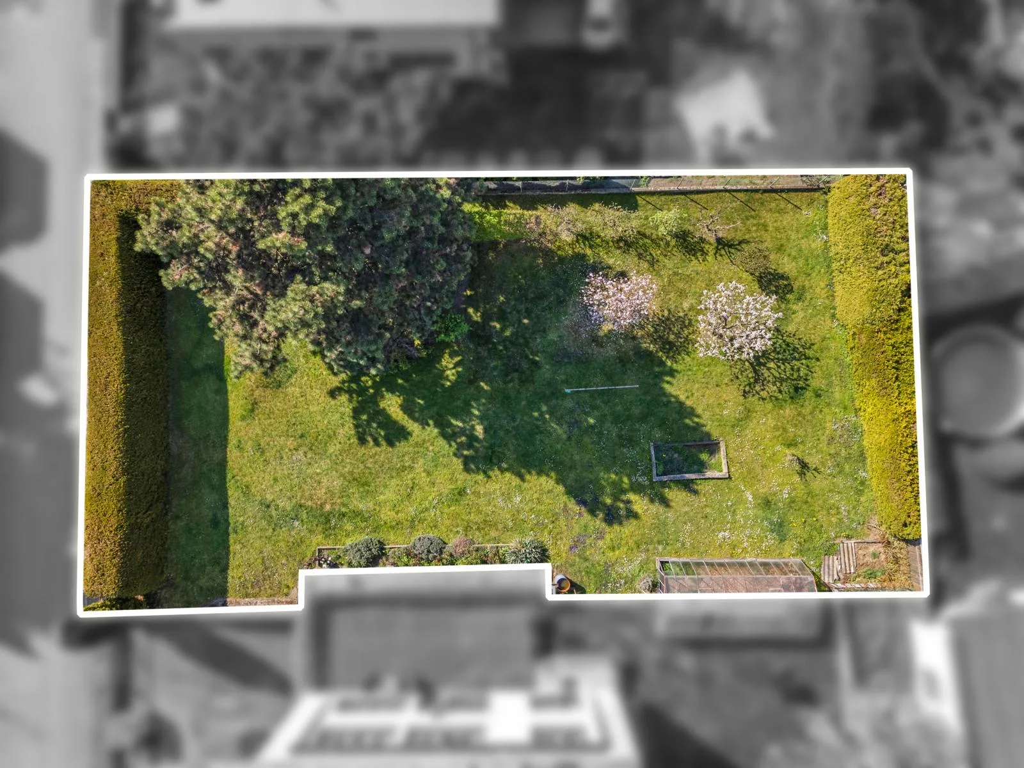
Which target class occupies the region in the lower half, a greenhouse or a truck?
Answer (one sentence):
Visible in the lower half is a greenhouse.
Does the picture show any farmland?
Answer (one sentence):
No, there is no farmland in the image.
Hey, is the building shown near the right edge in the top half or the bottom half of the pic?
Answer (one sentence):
You can find the building shown near the right edge in the bottom half.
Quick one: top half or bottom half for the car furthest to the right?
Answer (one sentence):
The top half of the photo is where the car furthest to the right is.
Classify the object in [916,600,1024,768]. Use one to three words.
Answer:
building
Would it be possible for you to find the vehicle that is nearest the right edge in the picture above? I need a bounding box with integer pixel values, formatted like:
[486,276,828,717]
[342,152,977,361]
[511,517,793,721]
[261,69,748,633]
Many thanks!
[578,0,625,55]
